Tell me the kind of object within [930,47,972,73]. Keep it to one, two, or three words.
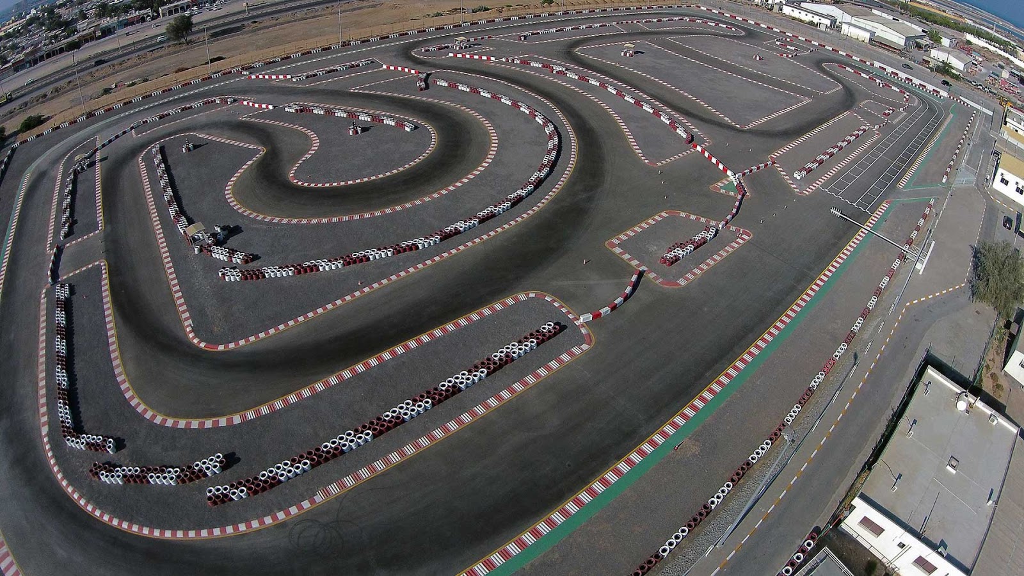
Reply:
building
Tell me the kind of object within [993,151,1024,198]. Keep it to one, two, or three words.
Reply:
building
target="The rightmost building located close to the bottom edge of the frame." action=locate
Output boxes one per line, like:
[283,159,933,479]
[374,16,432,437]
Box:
[826,367,1018,576]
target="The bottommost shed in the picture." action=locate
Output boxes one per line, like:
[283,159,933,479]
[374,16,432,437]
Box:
[795,547,853,576]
